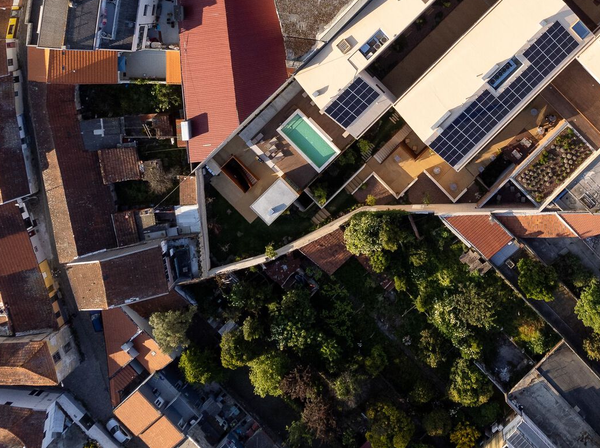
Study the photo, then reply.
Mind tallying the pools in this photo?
1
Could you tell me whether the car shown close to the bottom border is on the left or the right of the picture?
left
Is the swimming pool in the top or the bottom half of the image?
top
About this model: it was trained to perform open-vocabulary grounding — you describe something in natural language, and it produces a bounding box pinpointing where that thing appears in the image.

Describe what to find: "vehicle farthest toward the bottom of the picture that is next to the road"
[103,412,134,446]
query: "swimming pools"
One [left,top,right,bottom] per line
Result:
[277,108,341,173]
